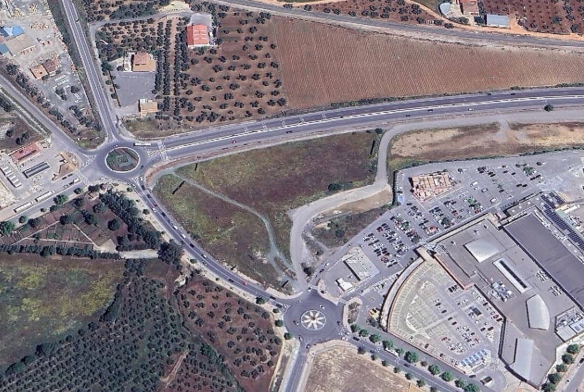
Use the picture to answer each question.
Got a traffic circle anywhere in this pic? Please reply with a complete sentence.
Yes, a traffic circle appears in the view.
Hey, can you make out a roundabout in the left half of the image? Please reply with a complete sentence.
Yes, the scene does show a roundabout in the left half of the image.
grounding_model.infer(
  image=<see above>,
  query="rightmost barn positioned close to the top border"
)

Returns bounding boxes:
[485,15,509,30]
